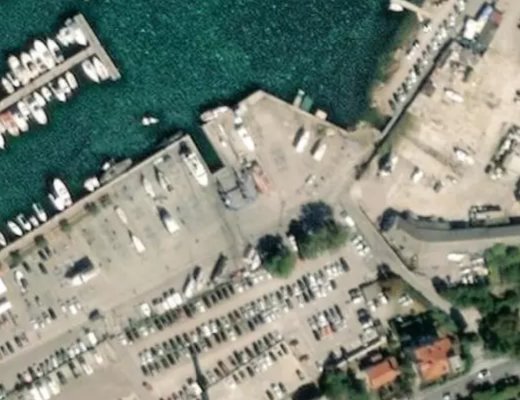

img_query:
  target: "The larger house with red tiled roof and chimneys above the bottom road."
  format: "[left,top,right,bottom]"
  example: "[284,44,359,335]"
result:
[414,341,460,380]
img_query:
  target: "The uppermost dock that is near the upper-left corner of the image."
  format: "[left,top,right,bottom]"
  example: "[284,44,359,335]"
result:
[0,14,120,111]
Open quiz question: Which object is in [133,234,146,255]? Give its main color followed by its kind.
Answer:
white boat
